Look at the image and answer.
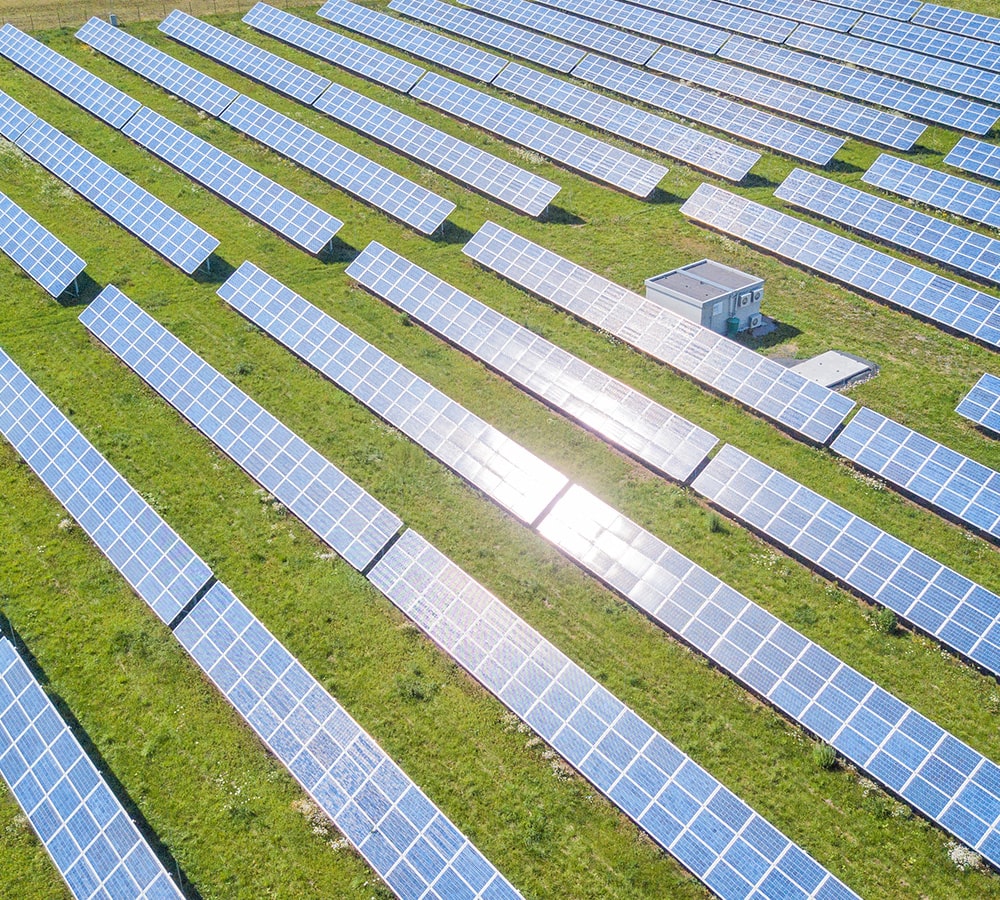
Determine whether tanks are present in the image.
No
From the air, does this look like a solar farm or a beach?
solar farm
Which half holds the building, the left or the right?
right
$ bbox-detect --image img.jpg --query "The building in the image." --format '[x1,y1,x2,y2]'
[646,258,765,338]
